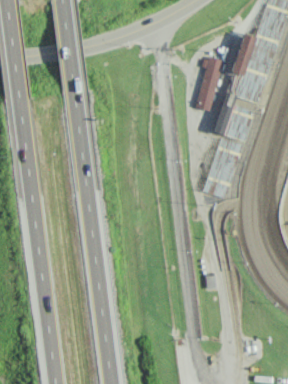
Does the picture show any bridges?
Yes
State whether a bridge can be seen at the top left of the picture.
Yes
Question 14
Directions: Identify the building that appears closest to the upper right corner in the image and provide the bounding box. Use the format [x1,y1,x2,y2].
[231,34,254,76]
